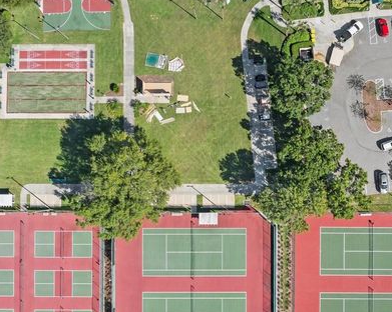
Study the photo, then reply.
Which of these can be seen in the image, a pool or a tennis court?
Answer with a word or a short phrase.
tennis court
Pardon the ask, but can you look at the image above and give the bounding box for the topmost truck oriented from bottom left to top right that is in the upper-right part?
[336,20,365,43]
